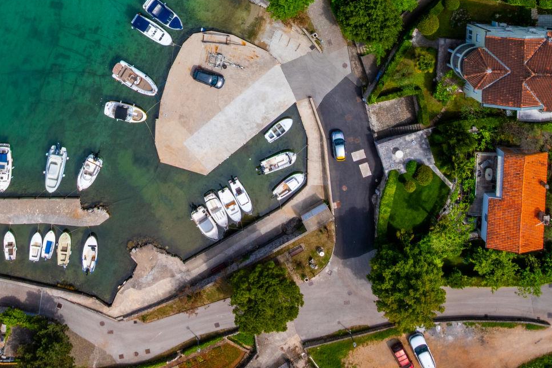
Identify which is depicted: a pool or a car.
car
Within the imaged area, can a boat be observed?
Yes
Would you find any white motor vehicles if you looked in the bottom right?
Yes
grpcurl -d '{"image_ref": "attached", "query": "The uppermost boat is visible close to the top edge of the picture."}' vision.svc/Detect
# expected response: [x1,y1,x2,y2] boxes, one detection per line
[146,0,182,30]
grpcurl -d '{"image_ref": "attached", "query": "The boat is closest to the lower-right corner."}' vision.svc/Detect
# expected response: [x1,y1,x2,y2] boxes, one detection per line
[270,174,305,199]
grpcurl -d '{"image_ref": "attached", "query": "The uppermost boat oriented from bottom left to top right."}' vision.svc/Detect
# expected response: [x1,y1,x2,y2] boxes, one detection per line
[264,119,293,144]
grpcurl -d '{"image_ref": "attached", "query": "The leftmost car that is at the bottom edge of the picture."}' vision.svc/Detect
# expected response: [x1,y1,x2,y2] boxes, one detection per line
[388,337,411,368]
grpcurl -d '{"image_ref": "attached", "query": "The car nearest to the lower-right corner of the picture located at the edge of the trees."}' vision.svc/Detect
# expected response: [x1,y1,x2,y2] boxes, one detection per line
[410,332,436,368]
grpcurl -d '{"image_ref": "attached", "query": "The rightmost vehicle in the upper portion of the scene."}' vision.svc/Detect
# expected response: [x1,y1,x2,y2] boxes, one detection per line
[331,128,347,162]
